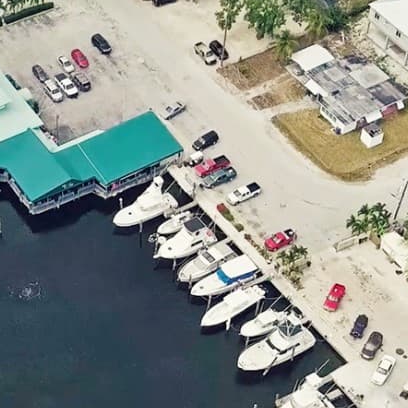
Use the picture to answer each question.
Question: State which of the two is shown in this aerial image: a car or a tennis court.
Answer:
car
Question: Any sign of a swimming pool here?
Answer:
No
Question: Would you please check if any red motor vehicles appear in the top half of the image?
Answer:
Yes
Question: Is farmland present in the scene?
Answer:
No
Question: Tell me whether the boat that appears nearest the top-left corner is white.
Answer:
Yes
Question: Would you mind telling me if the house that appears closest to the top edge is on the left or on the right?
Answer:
right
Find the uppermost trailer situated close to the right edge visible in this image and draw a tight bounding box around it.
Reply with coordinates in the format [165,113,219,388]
[380,233,408,276]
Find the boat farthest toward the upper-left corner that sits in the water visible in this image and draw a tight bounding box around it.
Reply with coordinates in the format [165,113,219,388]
[115,172,180,229]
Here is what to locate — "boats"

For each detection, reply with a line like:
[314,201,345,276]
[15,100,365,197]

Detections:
[240,308,320,380]
[153,203,219,261]
[292,357,331,408]
[192,258,268,300]
[179,239,243,284]
[115,172,180,229]
[203,276,270,329]
[159,210,197,233]
[242,308,294,336]
[278,368,341,404]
